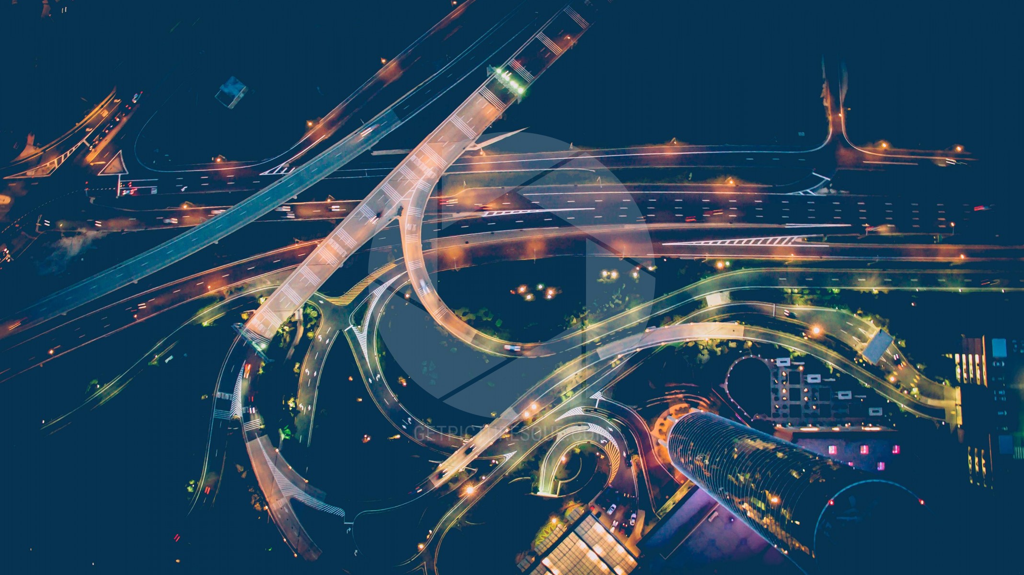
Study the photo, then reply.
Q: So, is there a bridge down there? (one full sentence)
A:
Yes, there's a bridge here.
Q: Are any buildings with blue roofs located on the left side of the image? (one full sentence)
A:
Yes, you'll find a building with a blue roof on the left side of the image.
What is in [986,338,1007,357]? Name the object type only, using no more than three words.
building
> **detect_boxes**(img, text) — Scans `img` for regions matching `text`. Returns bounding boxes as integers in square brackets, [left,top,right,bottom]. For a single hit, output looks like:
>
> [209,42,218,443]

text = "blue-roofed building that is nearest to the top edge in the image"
[215,76,252,112]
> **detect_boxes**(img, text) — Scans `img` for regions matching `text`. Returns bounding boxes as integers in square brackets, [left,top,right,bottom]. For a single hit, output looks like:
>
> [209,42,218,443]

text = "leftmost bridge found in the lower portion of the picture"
[245,433,338,560]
